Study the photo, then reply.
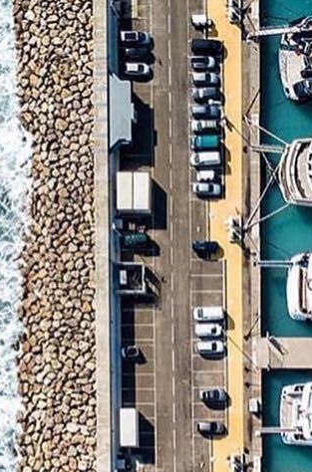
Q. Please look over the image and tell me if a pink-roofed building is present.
No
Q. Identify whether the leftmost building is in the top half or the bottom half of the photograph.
top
